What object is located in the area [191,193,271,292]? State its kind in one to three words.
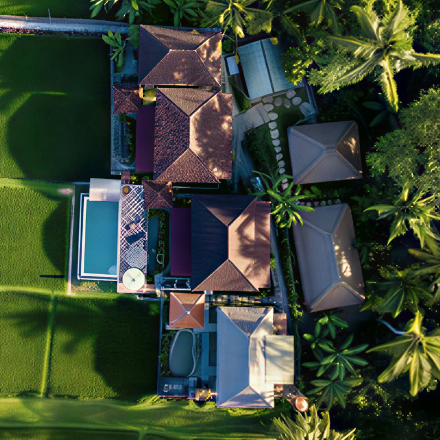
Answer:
house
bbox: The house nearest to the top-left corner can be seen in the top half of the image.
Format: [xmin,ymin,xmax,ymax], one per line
[139,25,223,87]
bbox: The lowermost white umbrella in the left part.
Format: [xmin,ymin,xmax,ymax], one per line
[123,267,145,290]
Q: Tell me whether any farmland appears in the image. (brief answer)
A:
Yes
